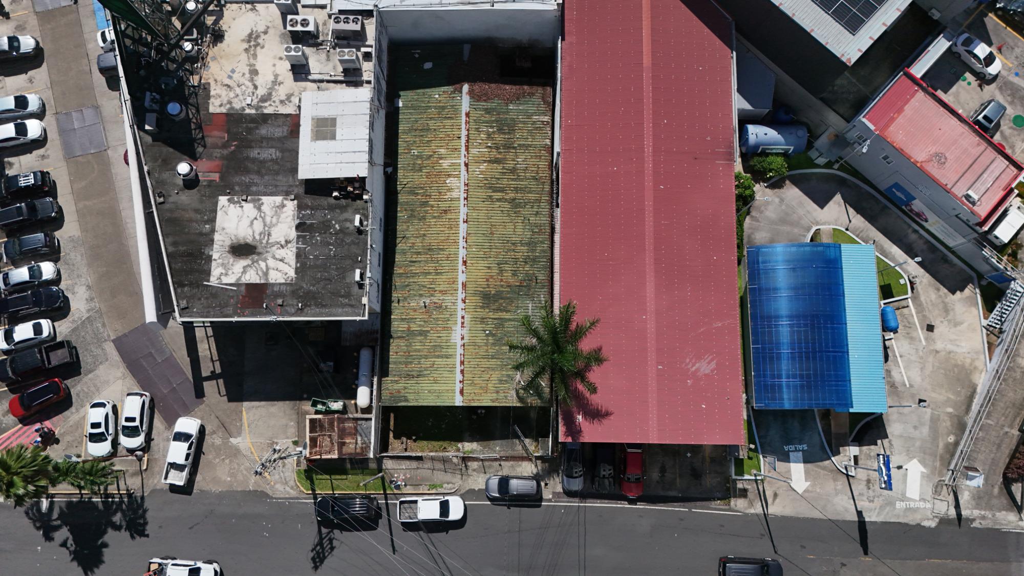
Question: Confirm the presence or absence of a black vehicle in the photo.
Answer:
Yes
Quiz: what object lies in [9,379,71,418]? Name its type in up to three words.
car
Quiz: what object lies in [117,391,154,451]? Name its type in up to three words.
car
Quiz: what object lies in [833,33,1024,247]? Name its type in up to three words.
building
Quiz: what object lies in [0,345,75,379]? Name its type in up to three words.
truck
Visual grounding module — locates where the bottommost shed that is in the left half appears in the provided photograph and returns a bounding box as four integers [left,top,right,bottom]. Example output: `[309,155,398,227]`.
[306,416,377,457]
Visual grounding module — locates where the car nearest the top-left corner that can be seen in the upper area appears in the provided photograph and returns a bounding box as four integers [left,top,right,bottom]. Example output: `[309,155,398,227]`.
[0,33,44,61]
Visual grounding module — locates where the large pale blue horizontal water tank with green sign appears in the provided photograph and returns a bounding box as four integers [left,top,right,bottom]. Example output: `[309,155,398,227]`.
[742,128,806,158]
